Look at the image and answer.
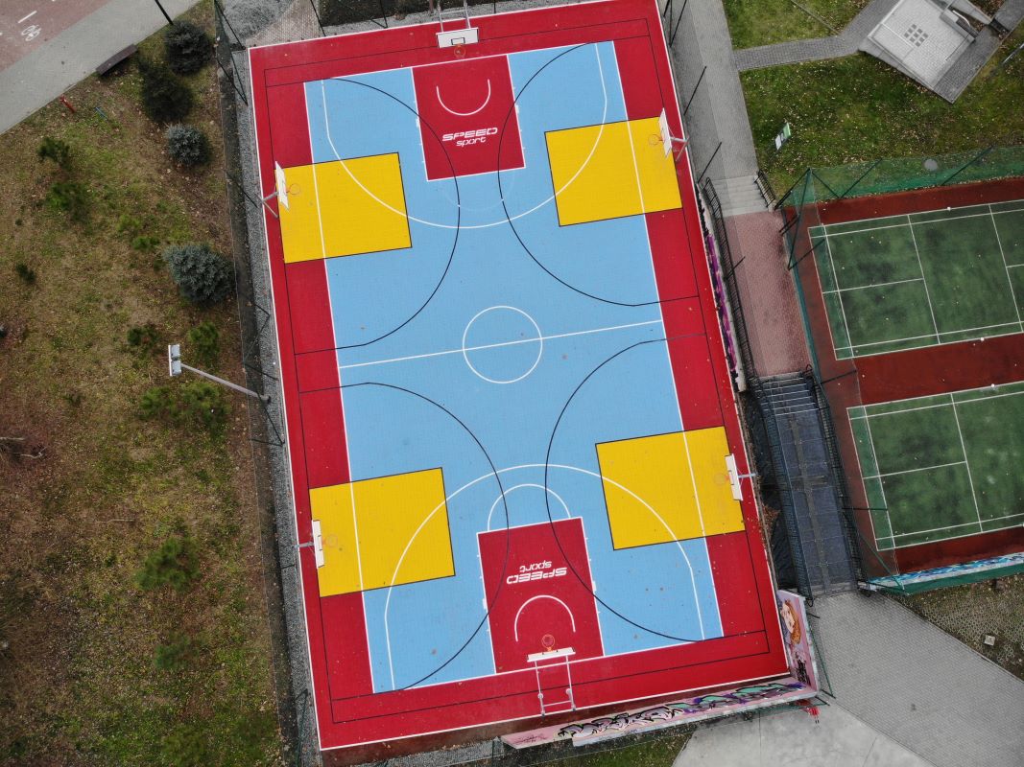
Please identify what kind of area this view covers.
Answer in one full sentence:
What you see here is a sports ground.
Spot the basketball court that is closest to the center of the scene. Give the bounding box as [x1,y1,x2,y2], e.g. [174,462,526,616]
[249,0,791,750]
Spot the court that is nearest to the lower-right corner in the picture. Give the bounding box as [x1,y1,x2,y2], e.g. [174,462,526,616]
[847,382,1024,551]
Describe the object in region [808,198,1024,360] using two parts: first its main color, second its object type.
green sports court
